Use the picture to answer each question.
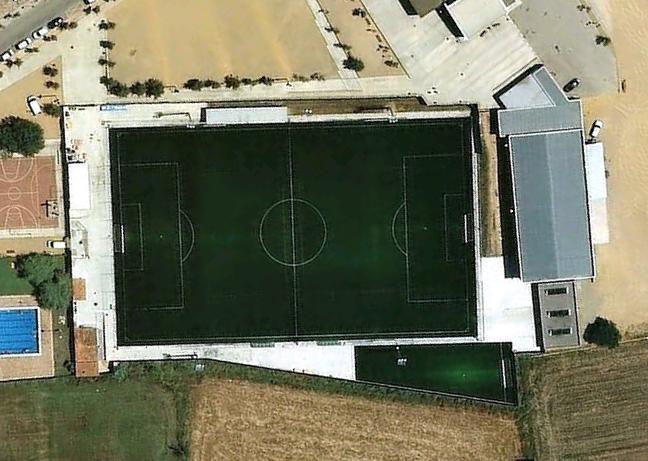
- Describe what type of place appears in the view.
sports ground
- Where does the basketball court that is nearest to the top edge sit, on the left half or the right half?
left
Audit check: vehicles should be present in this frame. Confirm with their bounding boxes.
[32,27,49,40]
[0,49,14,62]
[564,79,580,92]
[48,240,66,249]
[591,121,602,137]
[15,38,31,51]
[47,17,63,30]
[27,96,43,115]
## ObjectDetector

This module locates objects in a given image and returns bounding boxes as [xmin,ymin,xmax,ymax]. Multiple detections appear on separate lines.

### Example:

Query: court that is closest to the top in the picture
[0,156,61,229]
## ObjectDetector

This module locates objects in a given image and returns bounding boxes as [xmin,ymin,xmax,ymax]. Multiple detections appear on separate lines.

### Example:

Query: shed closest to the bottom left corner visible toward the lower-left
[75,325,98,377]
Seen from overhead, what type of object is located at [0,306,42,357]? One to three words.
swimming pool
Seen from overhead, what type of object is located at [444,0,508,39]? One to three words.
building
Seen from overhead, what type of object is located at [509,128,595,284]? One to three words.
building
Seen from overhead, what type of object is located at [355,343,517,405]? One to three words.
soccer field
